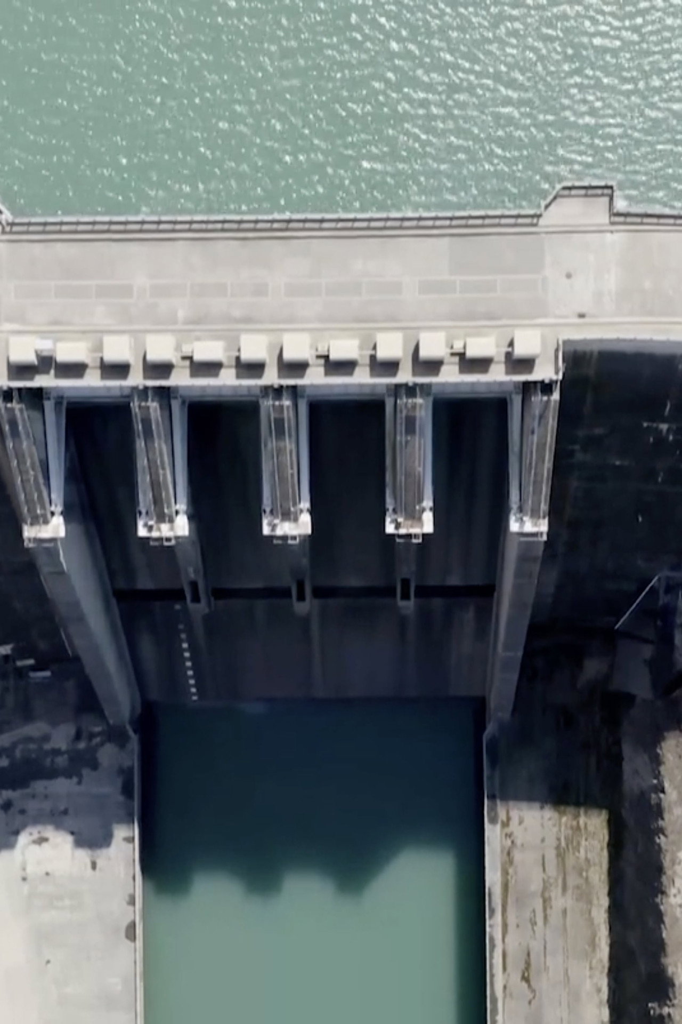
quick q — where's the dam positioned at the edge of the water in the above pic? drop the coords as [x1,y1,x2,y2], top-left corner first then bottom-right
[0,183,682,699]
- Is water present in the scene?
Yes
